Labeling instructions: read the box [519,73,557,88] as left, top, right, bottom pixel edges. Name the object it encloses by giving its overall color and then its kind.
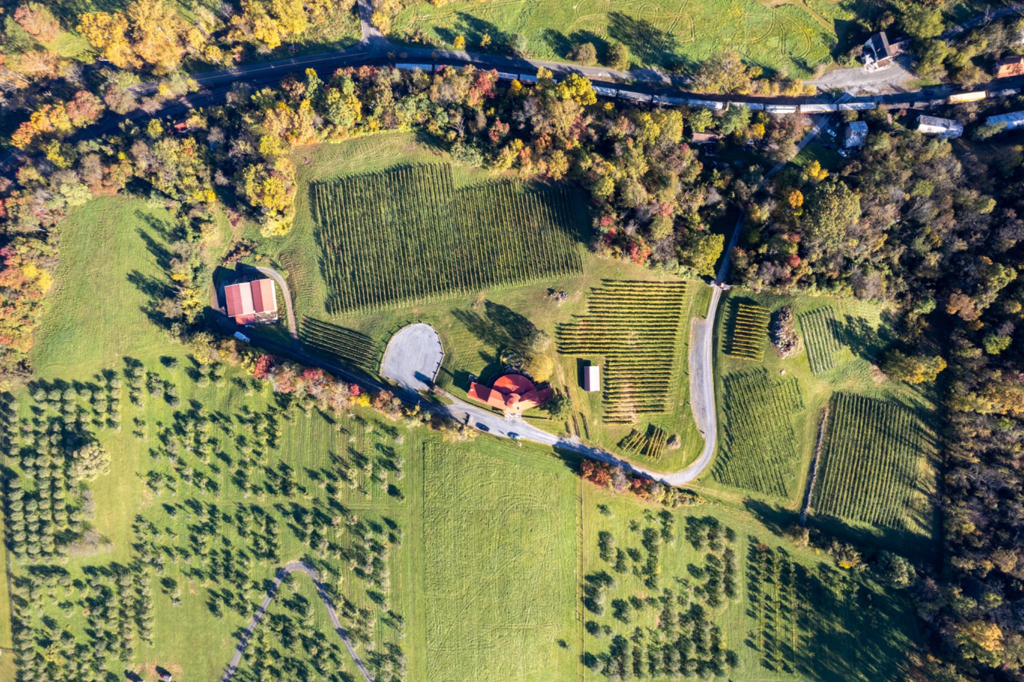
blue rail car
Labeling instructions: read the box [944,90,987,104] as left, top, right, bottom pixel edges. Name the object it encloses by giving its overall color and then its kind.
white rail car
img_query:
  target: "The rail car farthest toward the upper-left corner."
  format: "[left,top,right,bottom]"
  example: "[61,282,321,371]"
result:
[395,61,434,74]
